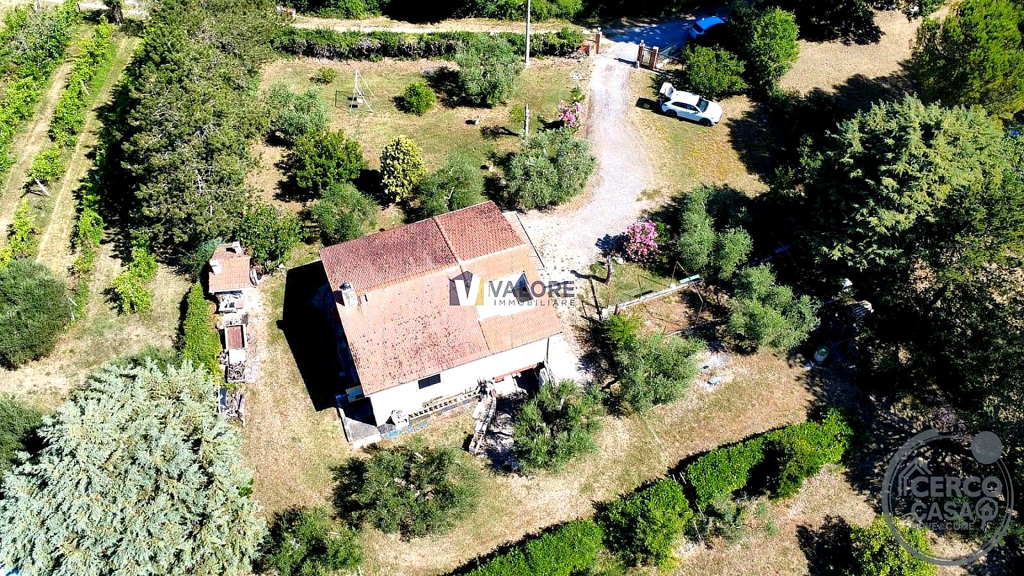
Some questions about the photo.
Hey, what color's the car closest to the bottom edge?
white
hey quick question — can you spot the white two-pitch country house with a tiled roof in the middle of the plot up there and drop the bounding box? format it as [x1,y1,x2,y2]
[321,198,561,423]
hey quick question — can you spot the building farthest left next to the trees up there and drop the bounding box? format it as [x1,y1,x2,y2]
[205,239,266,310]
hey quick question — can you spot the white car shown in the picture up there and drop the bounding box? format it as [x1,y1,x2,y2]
[652,73,722,121]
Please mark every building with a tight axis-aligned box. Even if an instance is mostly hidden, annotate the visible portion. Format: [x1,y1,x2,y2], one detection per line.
[205,239,266,310]
[321,198,561,423]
